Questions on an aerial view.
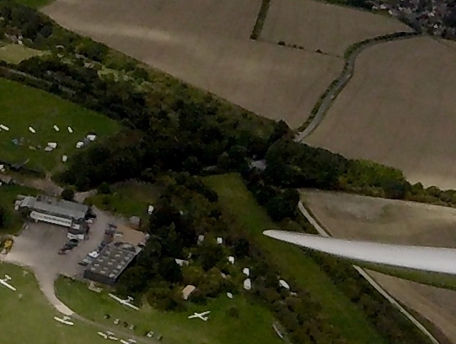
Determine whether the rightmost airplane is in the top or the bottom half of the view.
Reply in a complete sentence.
The rightmost airplane sits in the bottom half of the picture.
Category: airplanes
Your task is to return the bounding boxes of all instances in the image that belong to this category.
[97,330,117,339]
[264,230,456,275]
[0,274,14,288]
[54,315,74,326]
[109,293,138,311]
[188,312,210,320]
